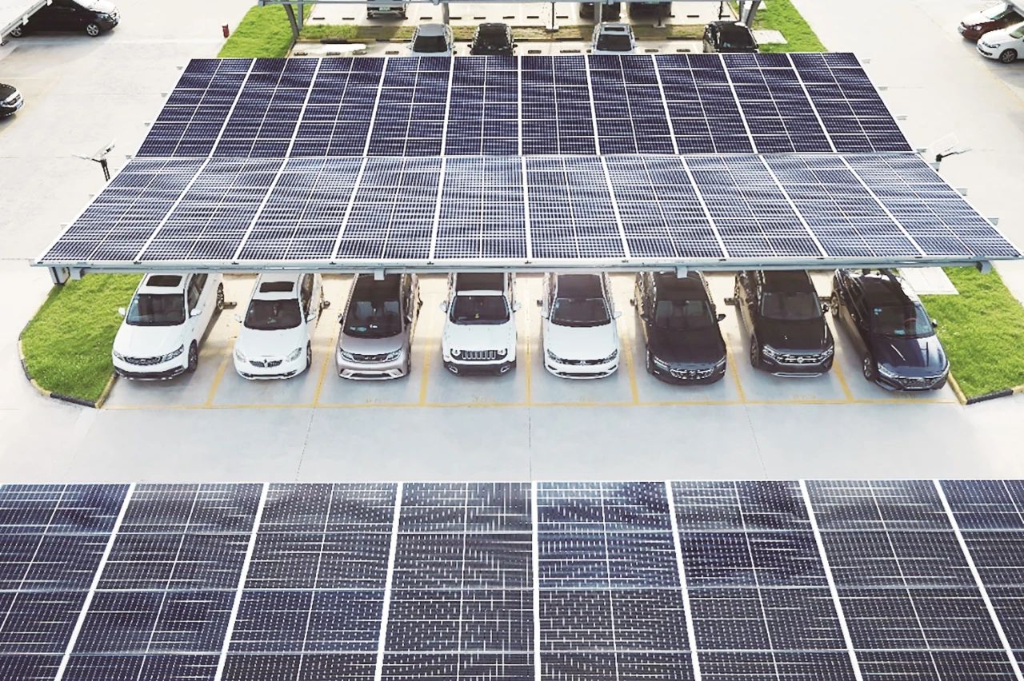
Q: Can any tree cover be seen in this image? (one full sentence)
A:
No, tree cover can't be seen anywhere here.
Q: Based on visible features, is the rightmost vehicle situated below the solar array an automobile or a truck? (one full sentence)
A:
From above, the rightmost vehicle situated below the solar array can be identified as an automobile.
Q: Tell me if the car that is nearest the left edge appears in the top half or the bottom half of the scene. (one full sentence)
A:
You can find the car that is nearest the left edge in the top half.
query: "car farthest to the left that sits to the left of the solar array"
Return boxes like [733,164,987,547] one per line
[0,75,28,113]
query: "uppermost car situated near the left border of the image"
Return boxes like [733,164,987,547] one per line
[22,0,124,34]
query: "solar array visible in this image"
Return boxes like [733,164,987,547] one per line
[172,54,870,87]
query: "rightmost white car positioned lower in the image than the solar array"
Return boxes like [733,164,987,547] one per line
[534,272,624,380]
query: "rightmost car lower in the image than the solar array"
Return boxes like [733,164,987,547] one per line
[817,270,944,391]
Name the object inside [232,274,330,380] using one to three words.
car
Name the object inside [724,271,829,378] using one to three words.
car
